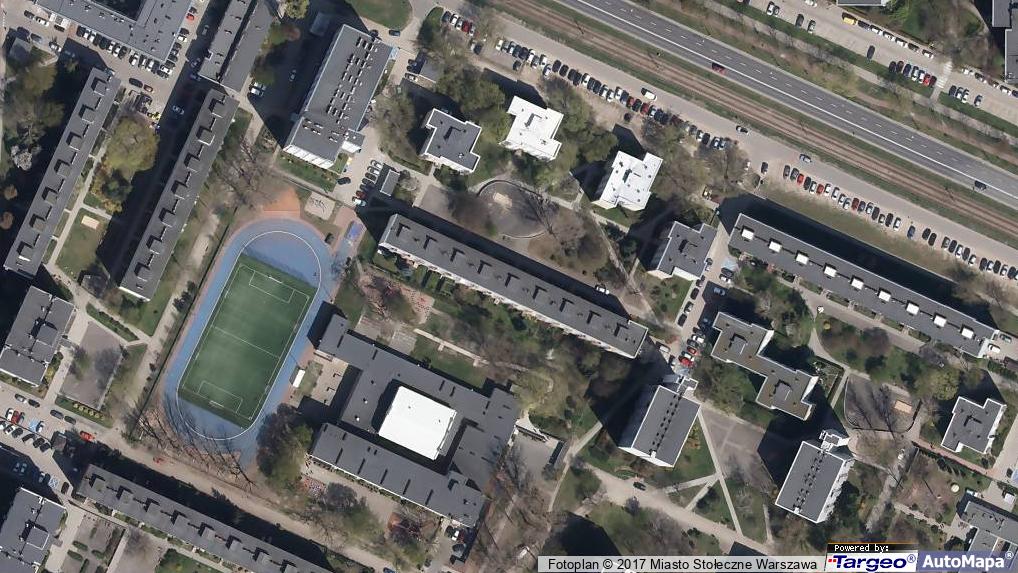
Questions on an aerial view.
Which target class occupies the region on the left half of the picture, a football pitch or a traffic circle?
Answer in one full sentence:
Looking on the left half of the picture, you will find a football pitch.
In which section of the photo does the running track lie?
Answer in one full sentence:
The running track is in the left part of the image.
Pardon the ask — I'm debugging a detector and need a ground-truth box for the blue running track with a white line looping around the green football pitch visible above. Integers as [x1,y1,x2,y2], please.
[154,213,342,472]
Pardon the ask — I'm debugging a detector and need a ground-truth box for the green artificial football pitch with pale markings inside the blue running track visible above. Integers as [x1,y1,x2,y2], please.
[177,254,317,429]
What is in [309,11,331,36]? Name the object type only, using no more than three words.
shed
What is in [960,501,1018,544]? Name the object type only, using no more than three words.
building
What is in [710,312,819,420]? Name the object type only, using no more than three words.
building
